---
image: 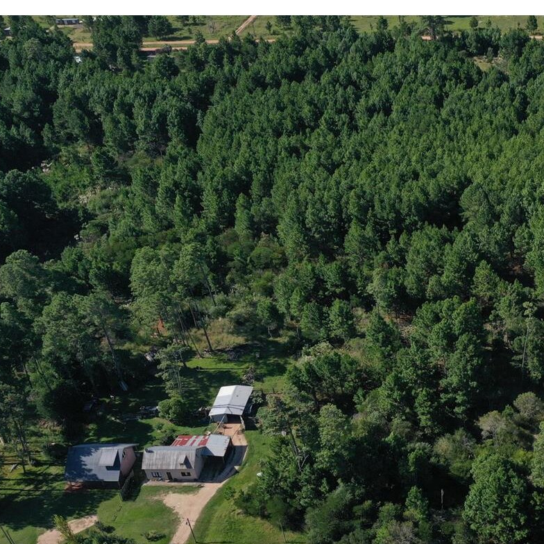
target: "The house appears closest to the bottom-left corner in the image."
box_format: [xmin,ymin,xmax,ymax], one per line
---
[64,442,143,490]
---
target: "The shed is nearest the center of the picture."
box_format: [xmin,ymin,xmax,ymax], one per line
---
[207,385,256,425]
